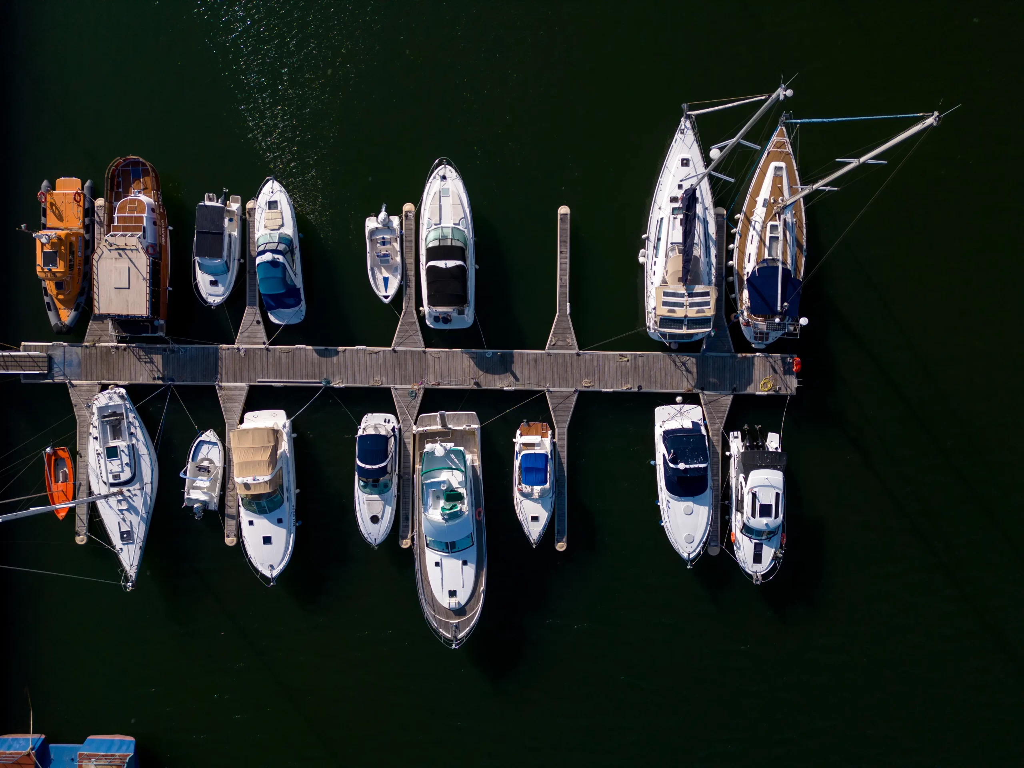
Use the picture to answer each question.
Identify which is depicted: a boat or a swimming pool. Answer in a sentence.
This aerial view contains a boat.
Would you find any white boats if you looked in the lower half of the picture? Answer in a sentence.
Yes, you'll find a white boat in the lower half of the picture.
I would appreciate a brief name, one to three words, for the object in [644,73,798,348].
boat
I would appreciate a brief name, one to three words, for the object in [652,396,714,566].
boat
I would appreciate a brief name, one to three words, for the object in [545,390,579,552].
pier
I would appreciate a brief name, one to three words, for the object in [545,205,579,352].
pier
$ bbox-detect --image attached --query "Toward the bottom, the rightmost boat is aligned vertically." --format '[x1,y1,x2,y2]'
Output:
[726,426,787,584]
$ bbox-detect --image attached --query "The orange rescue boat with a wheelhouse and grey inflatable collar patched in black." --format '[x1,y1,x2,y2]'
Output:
[18,177,95,334]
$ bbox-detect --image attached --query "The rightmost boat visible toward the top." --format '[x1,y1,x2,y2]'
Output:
[733,99,962,348]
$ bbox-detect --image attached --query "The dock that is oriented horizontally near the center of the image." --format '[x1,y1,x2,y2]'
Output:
[22,342,803,395]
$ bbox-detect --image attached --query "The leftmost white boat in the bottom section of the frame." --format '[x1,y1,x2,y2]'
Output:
[0,388,158,592]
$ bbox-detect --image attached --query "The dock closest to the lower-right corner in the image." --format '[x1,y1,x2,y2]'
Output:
[698,392,734,555]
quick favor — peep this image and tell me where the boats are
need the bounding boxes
[726,426,787,584]
[366,205,402,303]
[652,396,714,566]
[733,99,962,348]
[644,73,798,348]
[179,429,225,520]
[91,153,172,341]
[18,177,95,334]
[0,439,77,521]
[230,410,298,586]
[255,177,310,325]
[0,388,158,592]
[415,410,486,648]
[355,413,400,549]
[420,157,475,329]
[192,188,245,308]
[514,419,555,547]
